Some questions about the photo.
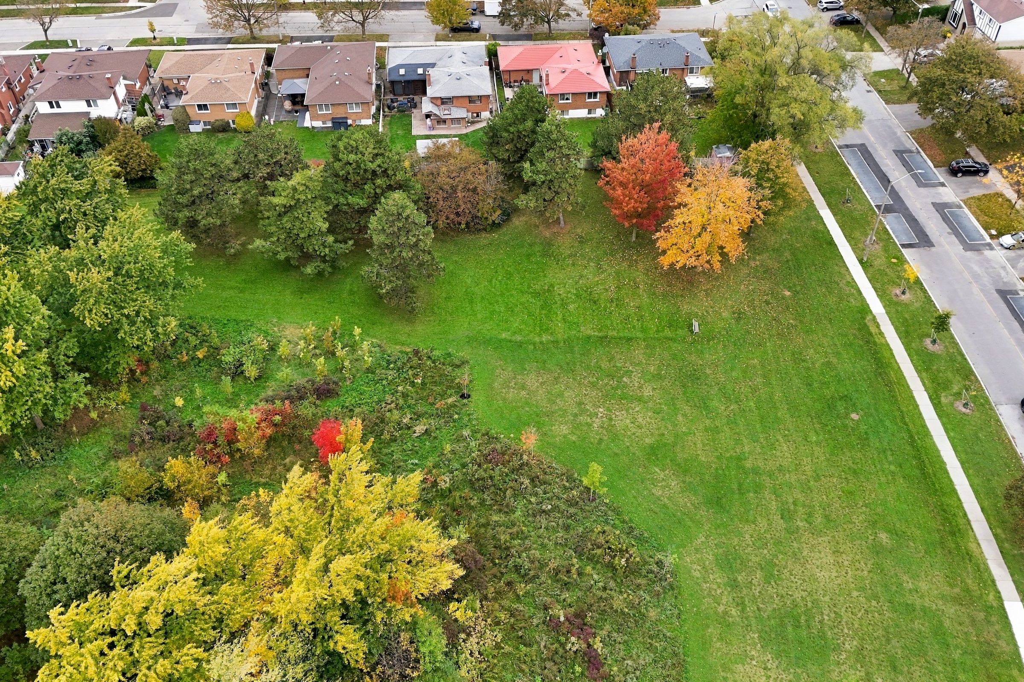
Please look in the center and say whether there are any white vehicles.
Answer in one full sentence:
No, no white vehicle appears in the center.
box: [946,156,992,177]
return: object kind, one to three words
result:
car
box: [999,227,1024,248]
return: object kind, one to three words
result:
car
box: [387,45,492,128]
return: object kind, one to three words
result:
house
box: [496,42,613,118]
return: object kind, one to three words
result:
house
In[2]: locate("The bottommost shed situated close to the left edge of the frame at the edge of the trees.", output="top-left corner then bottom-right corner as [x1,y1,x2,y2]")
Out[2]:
[0,160,30,192]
